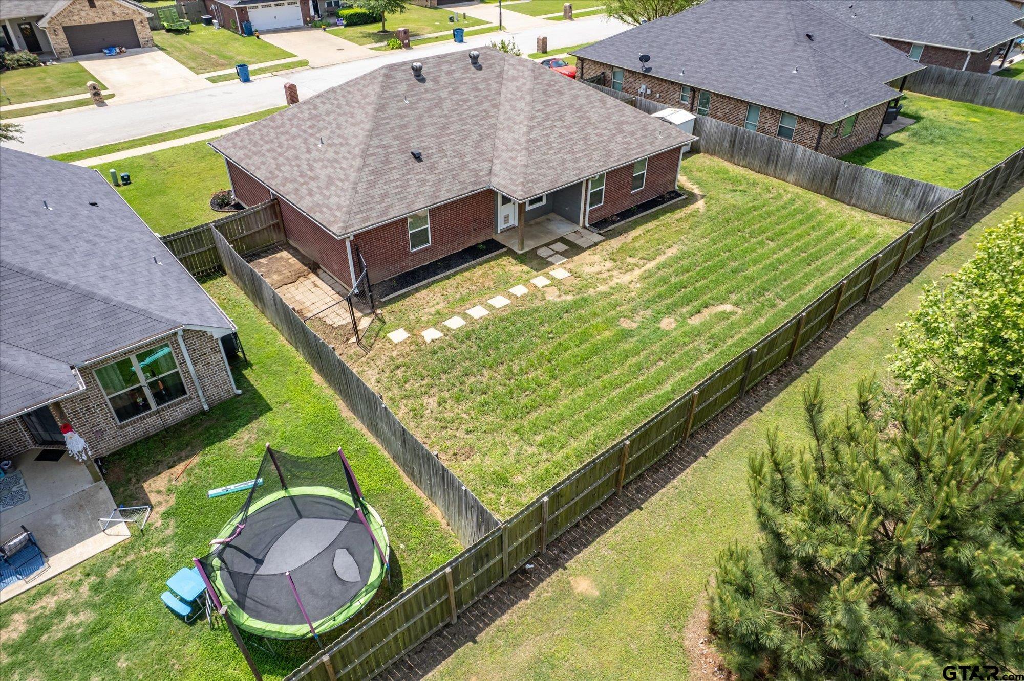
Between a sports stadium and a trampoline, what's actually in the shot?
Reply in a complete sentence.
There is a trampoline in the scene.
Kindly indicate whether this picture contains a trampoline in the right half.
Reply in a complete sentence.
No, in the right half there is no trampoline.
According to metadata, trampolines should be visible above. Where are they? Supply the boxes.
[192,445,391,671]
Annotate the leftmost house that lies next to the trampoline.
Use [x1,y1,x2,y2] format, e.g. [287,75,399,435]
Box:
[0,148,244,600]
